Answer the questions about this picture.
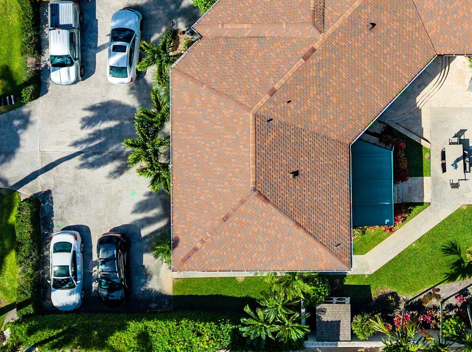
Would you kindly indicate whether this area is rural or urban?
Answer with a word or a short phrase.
urban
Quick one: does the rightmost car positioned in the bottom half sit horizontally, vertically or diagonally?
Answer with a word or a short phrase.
vertically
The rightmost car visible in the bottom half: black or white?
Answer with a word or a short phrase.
black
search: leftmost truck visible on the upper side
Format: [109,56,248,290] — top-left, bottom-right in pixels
[42,0,86,85]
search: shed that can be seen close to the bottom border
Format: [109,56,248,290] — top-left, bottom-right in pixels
[316,294,351,341]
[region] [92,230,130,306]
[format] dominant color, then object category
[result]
black car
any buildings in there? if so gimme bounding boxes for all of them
[168,0,472,275]
[316,294,351,341]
